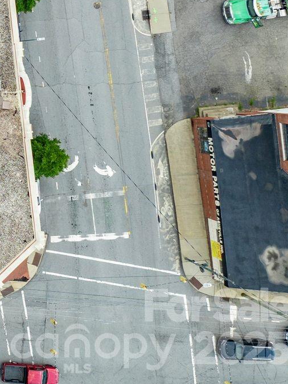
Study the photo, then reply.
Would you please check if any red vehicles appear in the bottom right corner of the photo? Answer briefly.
No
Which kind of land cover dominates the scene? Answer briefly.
paved ground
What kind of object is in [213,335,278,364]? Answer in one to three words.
van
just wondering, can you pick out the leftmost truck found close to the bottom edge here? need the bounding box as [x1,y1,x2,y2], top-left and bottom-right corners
[0,360,59,384]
